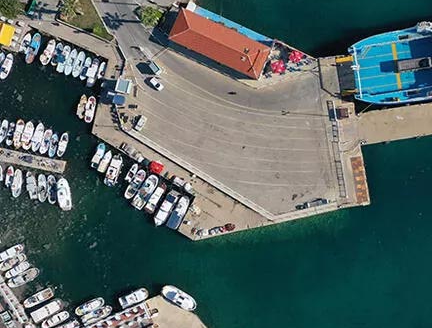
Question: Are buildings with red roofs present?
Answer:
Yes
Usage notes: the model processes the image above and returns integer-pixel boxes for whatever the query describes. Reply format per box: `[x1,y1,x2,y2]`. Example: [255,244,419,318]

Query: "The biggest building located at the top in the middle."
[169,7,271,79]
